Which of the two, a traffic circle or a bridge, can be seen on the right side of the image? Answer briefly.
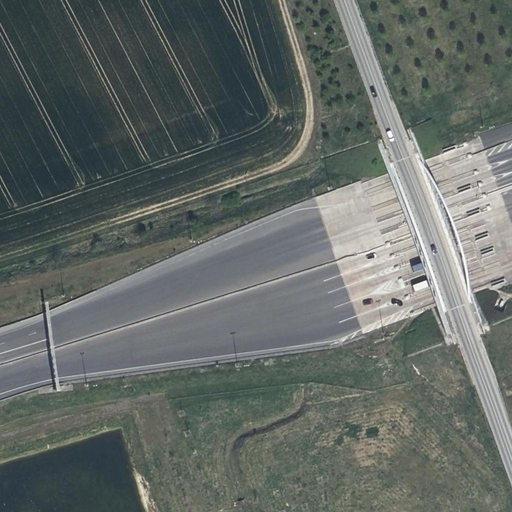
bridge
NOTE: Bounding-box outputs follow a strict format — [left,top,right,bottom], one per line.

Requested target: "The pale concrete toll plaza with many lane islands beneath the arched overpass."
[316,134,512,337]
